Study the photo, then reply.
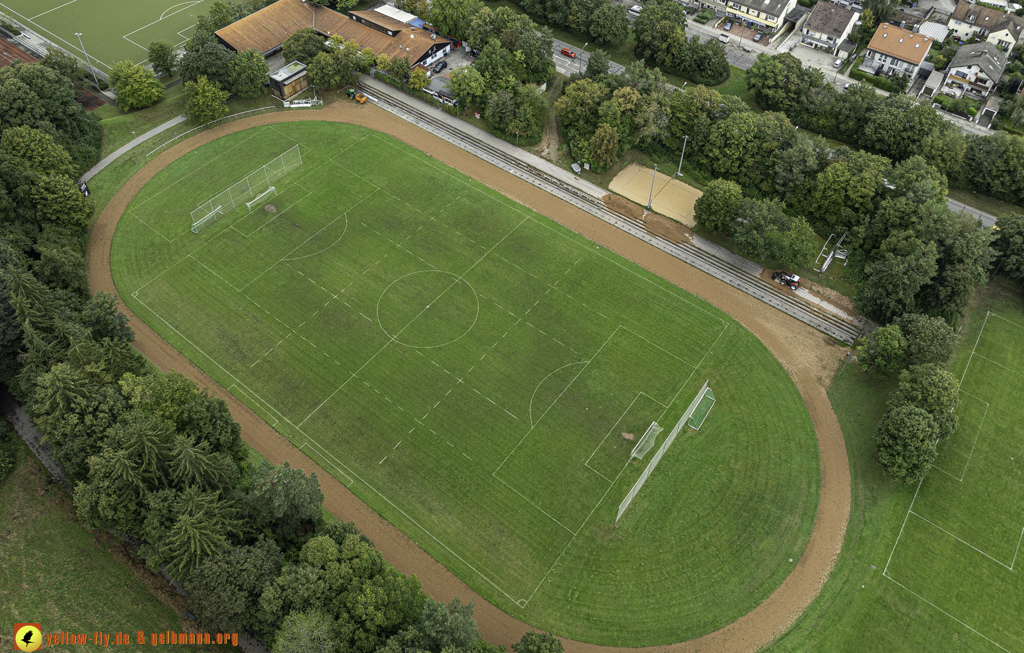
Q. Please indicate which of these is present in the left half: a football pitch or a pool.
football pitch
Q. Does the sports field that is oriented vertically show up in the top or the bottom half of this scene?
bottom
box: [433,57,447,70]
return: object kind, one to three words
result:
vehicle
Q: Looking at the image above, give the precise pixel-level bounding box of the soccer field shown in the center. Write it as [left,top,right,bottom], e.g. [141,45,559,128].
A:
[116,122,819,644]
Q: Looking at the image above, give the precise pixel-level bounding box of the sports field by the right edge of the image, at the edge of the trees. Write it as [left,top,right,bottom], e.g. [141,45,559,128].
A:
[883,314,1024,653]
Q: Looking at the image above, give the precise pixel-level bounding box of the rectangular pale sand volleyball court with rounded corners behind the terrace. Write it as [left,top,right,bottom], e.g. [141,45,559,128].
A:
[609,162,707,227]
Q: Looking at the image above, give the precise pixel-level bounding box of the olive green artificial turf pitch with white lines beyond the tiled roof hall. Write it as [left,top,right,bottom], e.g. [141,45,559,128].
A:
[0,0,282,79]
